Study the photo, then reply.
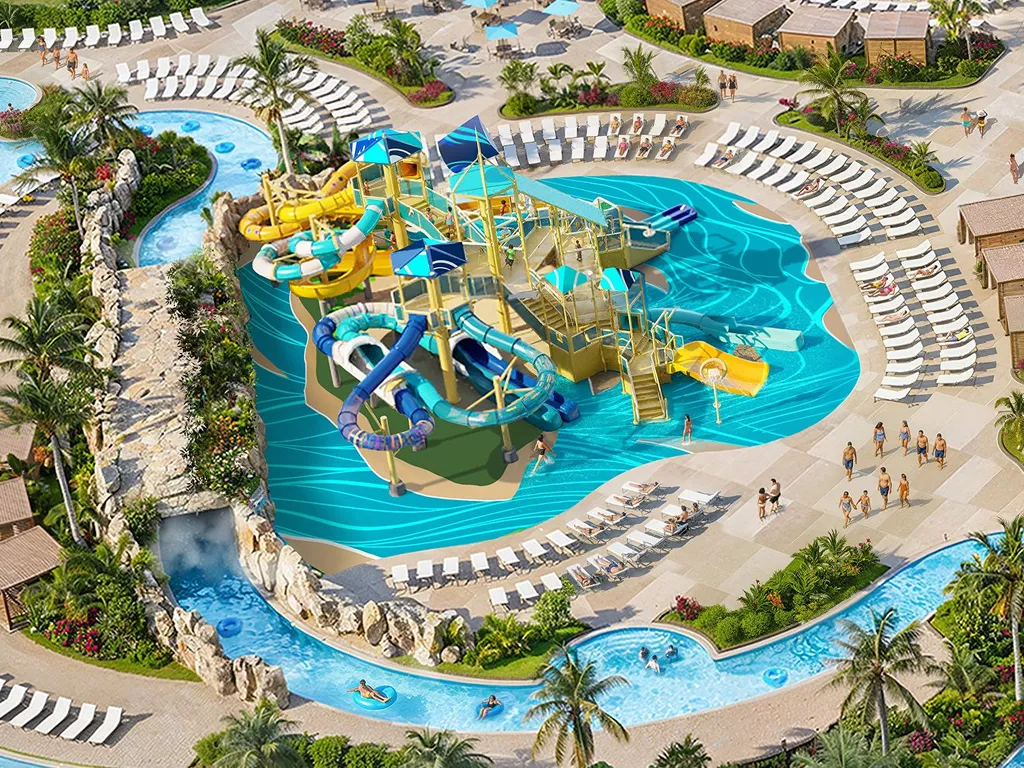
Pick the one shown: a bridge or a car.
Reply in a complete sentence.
The image shows a bridge.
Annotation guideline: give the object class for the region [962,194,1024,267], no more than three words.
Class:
shed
